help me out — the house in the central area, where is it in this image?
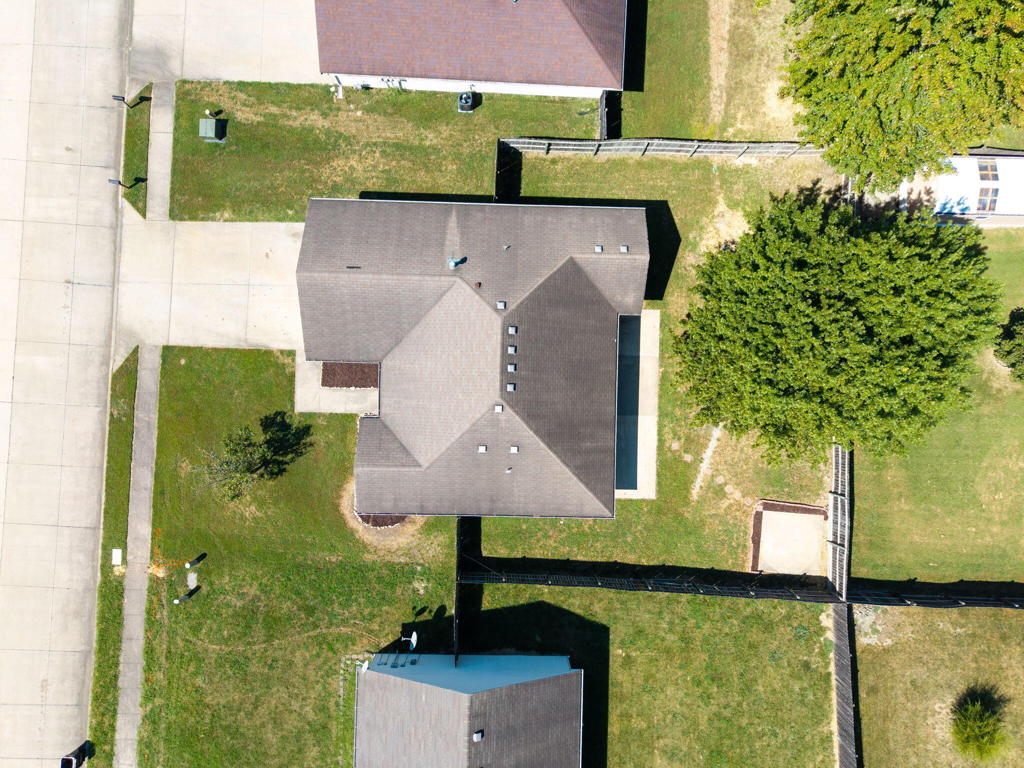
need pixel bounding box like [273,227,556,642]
[296,199,649,519]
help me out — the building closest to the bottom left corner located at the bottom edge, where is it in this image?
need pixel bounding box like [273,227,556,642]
[353,651,583,768]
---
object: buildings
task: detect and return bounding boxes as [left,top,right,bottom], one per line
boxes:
[900,157,1024,227]
[315,0,627,98]
[296,199,649,519]
[353,651,583,768]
